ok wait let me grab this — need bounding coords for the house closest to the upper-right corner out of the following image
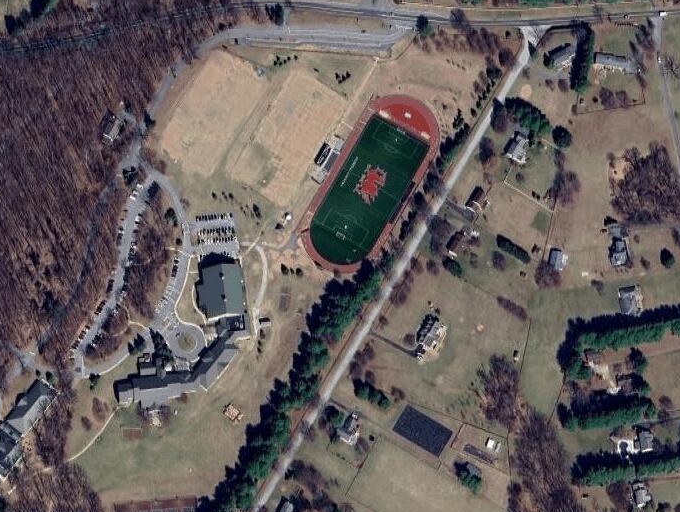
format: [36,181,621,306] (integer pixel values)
[594,50,637,73]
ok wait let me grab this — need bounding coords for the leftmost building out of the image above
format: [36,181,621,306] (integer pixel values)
[0,378,61,482]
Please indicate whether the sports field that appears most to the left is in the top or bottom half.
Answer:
top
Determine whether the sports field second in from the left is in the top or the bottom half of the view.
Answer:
top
